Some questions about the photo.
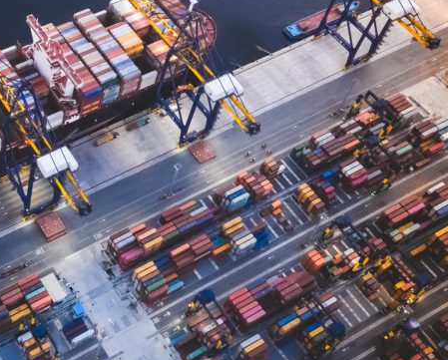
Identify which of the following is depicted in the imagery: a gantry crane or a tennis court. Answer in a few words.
gantry crane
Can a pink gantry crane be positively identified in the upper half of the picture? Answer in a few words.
No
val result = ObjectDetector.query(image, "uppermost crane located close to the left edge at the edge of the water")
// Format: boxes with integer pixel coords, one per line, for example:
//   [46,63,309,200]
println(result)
[0,57,98,220]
